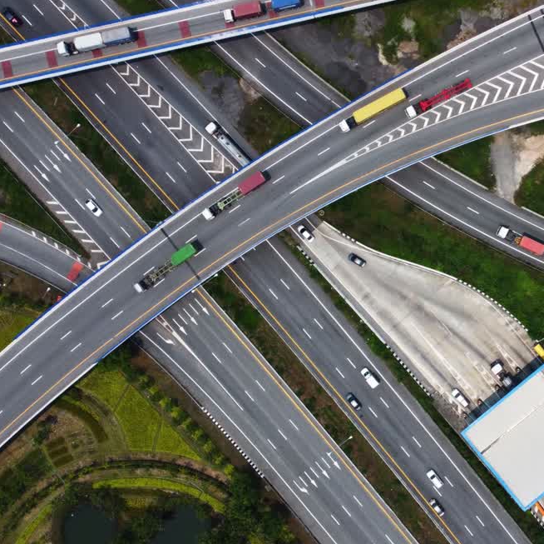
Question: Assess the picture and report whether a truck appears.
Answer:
Yes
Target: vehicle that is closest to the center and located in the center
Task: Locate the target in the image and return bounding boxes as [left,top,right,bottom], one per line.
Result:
[297,224,315,242]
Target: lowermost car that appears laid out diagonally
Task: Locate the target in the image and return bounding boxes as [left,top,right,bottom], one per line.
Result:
[429,497,446,516]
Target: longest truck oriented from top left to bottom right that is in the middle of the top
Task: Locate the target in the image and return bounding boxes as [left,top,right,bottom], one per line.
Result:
[201,121,251,171]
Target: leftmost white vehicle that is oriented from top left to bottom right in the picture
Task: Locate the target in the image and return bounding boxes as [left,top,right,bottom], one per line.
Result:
[83,199,102,217]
